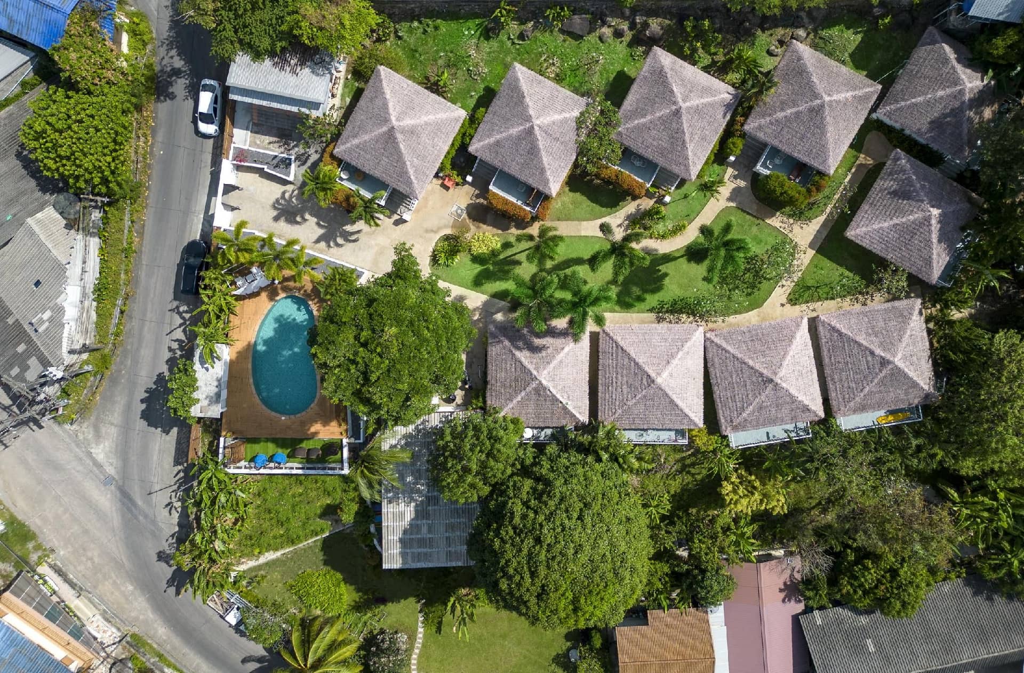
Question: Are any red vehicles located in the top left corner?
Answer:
No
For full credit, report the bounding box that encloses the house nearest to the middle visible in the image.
[485,324,591,443]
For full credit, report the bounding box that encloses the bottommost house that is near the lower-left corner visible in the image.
[0,573,113,673]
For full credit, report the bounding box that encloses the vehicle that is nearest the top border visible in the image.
[193,78,226,139]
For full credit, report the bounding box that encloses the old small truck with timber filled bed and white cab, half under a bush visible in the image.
[200,593,248,637]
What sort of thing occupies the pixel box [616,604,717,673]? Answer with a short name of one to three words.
house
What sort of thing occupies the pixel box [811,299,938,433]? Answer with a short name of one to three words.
house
